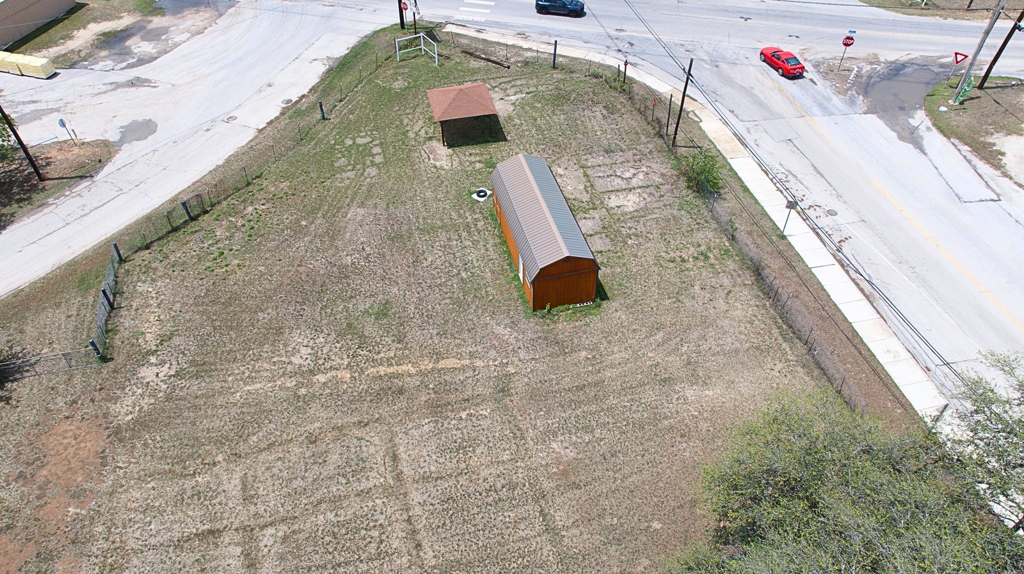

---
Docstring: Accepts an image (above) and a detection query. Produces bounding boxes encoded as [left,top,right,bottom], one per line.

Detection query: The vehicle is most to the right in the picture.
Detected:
[757,44,809,78]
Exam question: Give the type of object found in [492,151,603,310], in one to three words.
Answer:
shed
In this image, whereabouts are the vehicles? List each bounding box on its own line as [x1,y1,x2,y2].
[534,0,587,17]
[757,44,809,78]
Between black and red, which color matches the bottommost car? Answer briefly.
red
